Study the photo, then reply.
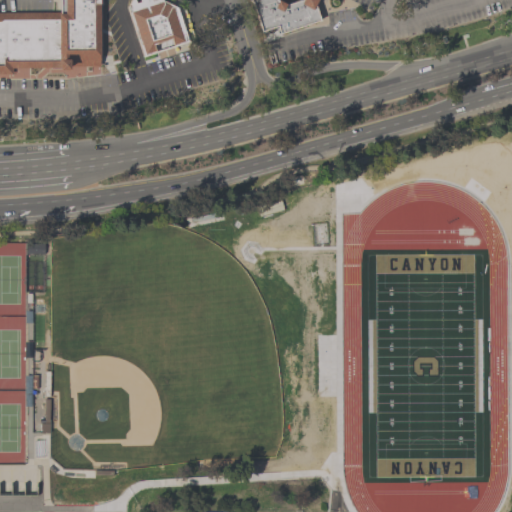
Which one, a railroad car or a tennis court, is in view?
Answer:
tennis court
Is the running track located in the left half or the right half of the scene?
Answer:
right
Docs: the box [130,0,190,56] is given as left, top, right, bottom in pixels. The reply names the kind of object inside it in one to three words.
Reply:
building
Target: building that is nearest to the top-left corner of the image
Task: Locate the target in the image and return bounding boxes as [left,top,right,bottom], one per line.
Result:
[0,0,102,71]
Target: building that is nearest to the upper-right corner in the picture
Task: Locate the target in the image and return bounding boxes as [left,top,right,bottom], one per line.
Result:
[258,0,322,32]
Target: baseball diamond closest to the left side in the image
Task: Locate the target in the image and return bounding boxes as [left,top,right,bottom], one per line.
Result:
[52,224,283,469]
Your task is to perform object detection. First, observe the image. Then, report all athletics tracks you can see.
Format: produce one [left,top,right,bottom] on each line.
[344,178,510,512]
